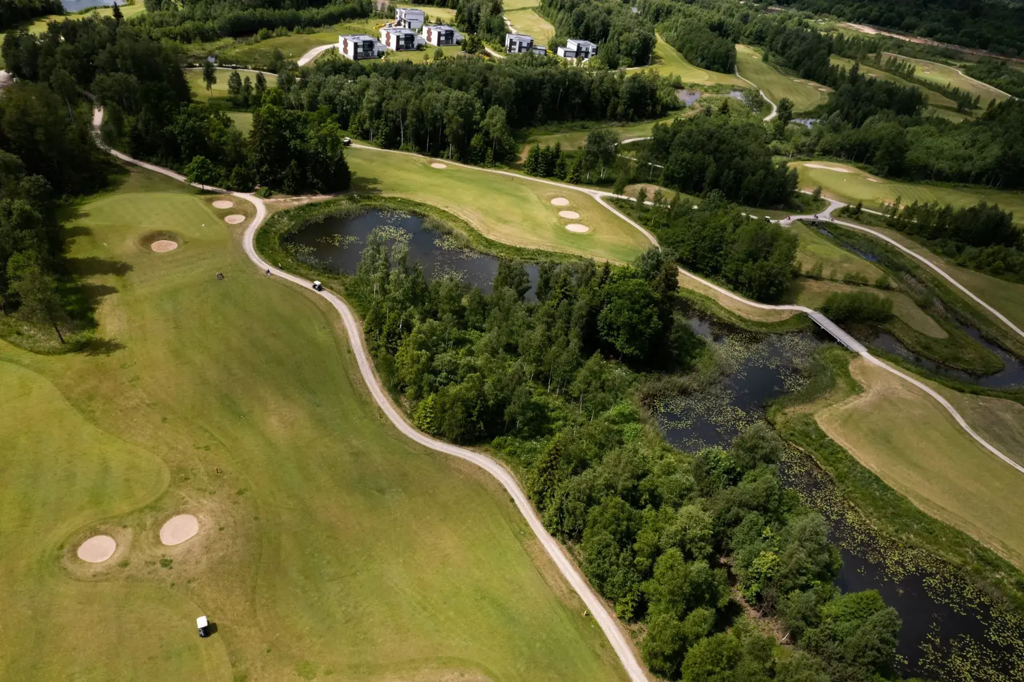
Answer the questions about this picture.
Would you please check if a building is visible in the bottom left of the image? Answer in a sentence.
No, in the bottom left of the image there is no building.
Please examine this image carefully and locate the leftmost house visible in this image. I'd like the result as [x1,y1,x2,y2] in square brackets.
[337,30,387,61]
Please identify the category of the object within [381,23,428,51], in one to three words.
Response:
house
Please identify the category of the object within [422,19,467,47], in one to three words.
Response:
house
